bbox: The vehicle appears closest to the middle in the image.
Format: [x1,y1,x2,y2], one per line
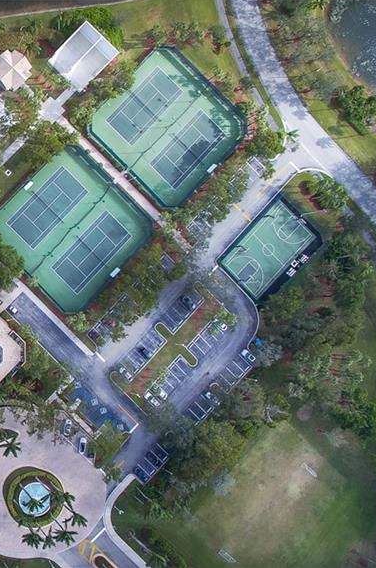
[182,295,196,310]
